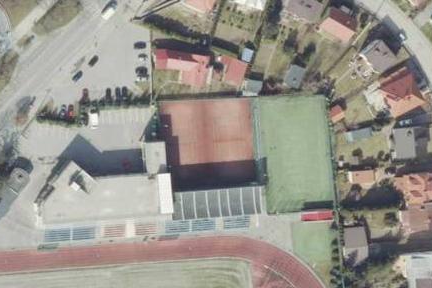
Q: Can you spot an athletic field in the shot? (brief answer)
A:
Yes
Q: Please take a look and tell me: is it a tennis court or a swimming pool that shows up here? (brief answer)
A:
tennis court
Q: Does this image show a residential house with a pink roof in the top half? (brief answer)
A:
Yes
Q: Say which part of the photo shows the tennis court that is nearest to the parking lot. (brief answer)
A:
center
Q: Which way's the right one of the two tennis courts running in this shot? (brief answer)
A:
up and down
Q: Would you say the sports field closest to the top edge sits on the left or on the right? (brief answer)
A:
right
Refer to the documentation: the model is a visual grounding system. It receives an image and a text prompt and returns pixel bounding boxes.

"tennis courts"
[207,98,253,187]
[159,99,209,190]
